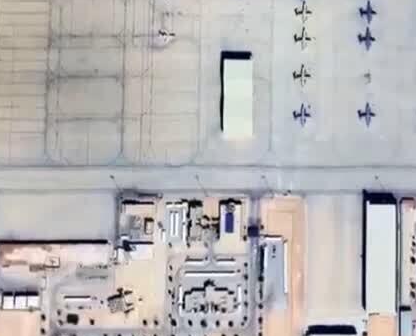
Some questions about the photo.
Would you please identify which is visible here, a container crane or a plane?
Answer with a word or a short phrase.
plane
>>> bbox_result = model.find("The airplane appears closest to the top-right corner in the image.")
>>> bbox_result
[361,3,377,26]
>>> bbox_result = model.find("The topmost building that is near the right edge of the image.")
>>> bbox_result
[367,202,397,314]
